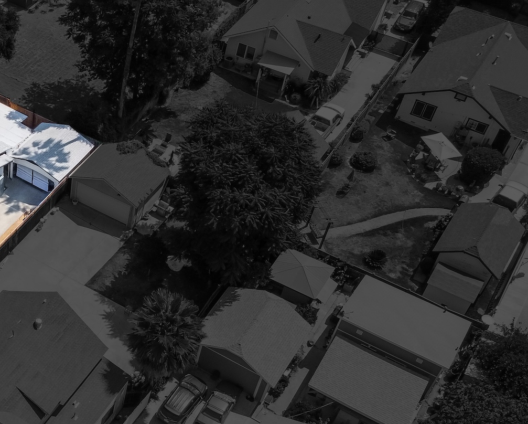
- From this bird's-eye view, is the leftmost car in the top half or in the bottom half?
bottom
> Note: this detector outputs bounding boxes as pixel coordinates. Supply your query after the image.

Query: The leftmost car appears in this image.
[155,375,204,424]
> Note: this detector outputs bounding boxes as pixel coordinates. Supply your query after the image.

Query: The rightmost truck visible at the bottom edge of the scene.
[194,383,239,424]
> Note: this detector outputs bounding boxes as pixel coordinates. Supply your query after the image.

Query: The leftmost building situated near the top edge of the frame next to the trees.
[221,0,396,98]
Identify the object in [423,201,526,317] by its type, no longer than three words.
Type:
building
